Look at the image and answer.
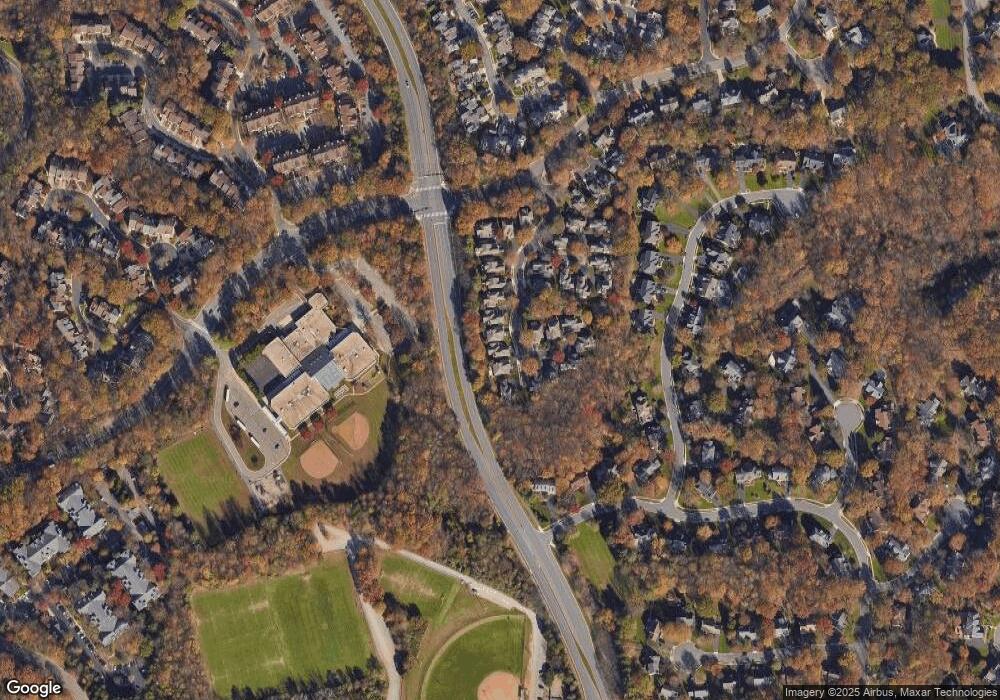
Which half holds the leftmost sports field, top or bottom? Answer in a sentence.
You can find the leftmost sports field in the bottom half.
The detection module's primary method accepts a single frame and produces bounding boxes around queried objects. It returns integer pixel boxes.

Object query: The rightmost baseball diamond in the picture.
[418,612,526,700]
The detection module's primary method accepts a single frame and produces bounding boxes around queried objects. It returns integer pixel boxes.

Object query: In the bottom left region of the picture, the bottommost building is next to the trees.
[75,588,132,645]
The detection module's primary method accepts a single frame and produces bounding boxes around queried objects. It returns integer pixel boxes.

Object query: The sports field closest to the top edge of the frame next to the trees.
[157,430,250,528]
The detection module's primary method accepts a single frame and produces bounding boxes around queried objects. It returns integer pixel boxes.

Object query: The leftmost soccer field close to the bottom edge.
[189,550,377,700]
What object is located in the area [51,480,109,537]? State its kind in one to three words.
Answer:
building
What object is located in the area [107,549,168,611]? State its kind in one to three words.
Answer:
building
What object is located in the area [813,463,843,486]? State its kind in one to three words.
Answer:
house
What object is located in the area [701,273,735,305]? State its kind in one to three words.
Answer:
house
